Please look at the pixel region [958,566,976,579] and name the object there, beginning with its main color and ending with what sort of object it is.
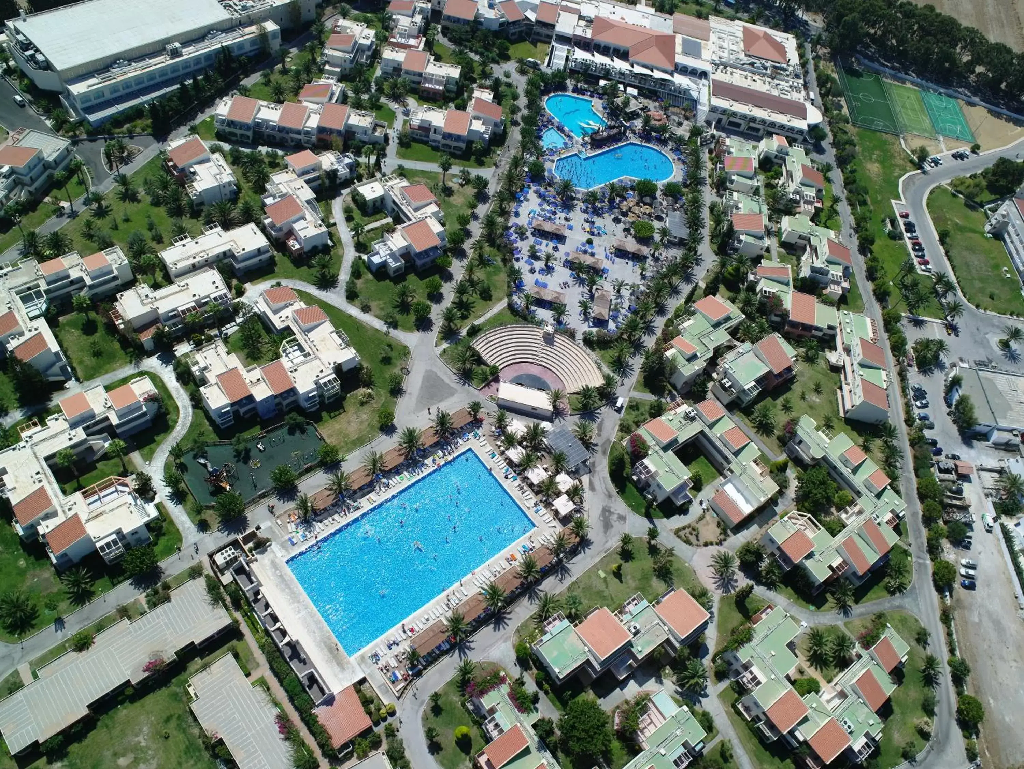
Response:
white vehicle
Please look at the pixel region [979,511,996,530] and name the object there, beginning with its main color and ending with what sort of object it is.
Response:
white vehicle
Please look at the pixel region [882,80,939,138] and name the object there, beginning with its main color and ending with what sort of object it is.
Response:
green tennis court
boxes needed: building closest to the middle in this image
[496,380,555,418]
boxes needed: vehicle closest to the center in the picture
[613,394,626,411]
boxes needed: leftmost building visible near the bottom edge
[0,574,234,759]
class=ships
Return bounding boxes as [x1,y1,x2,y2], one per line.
[592,114,624,139]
